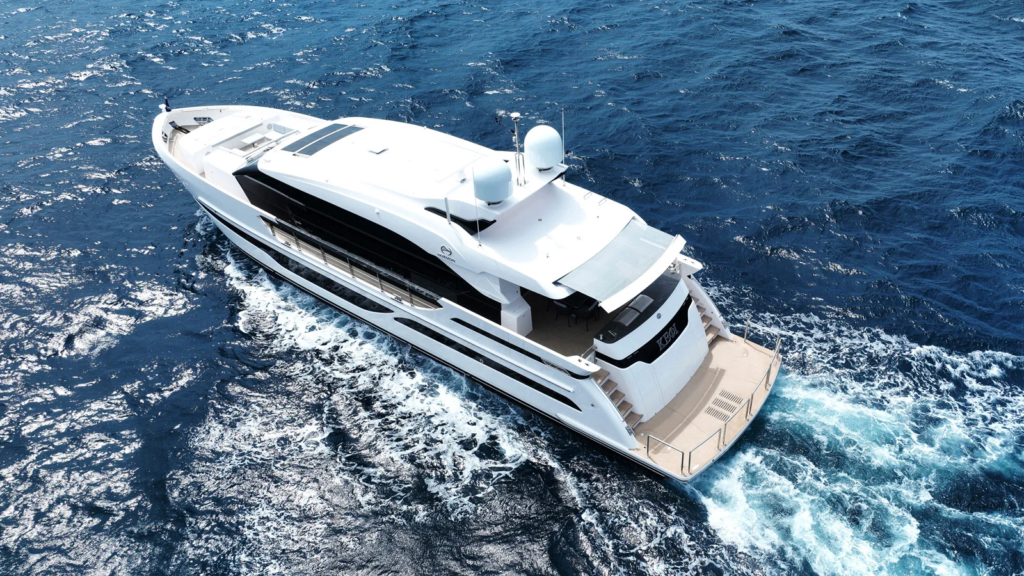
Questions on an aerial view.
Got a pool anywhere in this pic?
No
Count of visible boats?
one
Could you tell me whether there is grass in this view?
No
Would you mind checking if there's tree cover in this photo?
No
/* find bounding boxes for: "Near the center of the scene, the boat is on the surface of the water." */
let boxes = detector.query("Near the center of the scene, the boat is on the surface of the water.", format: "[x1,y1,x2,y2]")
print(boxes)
[152,93,781,486]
